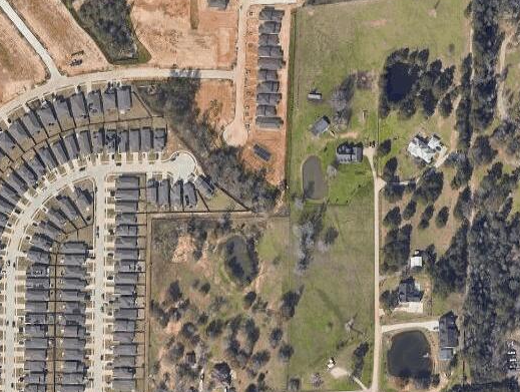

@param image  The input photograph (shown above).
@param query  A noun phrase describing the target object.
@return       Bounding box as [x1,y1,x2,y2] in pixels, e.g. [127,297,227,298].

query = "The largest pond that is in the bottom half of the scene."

[386,328,431,385]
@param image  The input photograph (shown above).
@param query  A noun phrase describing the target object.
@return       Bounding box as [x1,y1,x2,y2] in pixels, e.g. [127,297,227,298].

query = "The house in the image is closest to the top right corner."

[406,137,446,162]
